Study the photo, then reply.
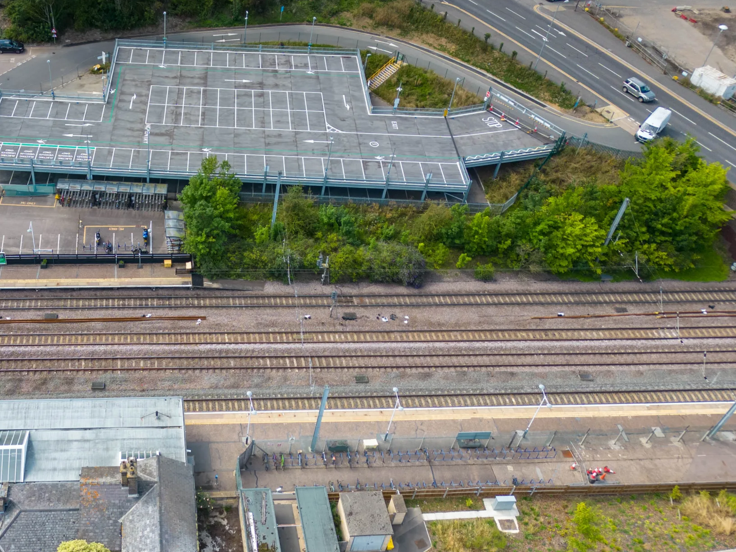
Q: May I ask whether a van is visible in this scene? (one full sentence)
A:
Yes, there's a van here.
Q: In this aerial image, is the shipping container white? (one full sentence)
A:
Yes, white is the color of the shipping container.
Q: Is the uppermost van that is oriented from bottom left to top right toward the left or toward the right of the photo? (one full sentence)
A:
It is on the right.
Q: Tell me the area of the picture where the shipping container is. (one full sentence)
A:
Look in the top right portion of the view to spot the shipping container.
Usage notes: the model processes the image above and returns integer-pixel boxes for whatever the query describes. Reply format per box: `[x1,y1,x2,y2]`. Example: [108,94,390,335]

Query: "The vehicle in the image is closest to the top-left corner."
[0,38,25,53]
